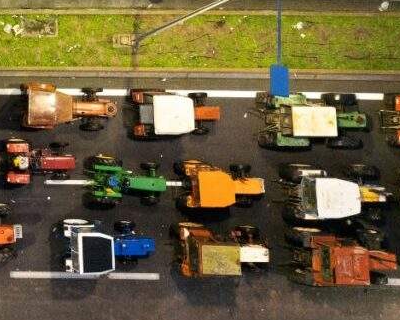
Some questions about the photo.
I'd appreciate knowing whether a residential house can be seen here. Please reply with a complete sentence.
No, I find no residential house anywhere in the image.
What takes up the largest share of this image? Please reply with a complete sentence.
The scene is dominated by paved ground.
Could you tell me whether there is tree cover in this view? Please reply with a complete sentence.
No, no tree cover is visible.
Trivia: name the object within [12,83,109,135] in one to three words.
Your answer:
work vehicle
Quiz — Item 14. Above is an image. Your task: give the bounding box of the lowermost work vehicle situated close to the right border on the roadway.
[281,228,395,289]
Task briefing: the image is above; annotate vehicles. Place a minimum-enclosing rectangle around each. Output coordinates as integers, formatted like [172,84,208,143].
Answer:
[272,164,383,222]
[0,140,76,184]
[250,95,365,146]
[12,83,109,135]
[51,218,155,275]
[281,228,395,289]
[81,158,166,209]
[165,223,269,283]
[170,160,264,212]
[369,95,400,146]
[123,89,219,138]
